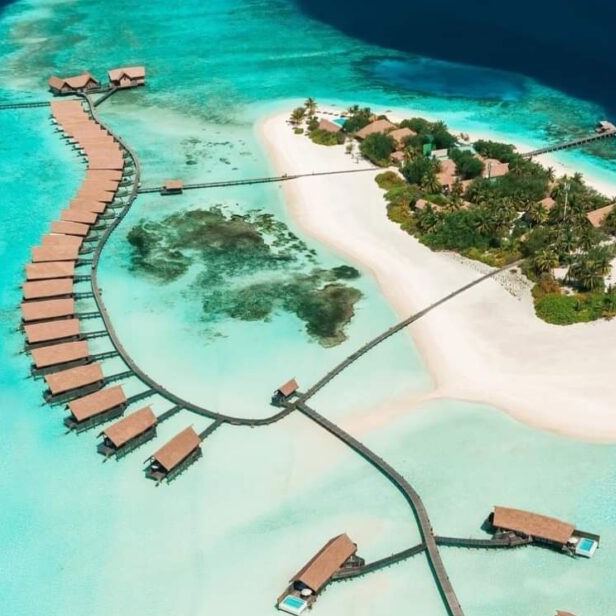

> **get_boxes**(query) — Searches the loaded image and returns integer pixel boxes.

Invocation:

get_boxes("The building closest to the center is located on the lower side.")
[270,377,301,408]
